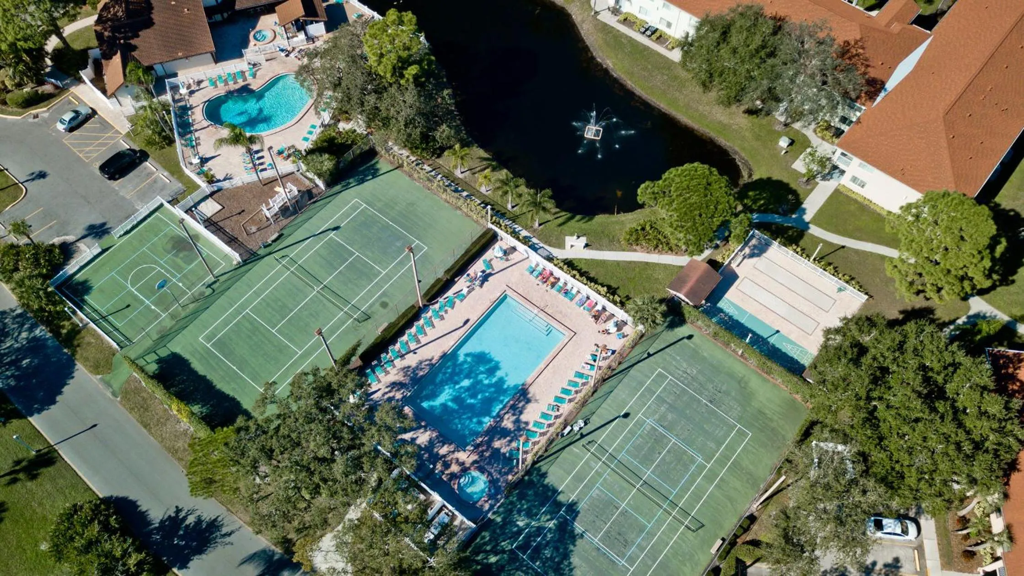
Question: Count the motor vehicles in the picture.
3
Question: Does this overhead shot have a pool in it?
Yes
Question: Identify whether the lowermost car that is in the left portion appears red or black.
black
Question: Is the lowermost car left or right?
right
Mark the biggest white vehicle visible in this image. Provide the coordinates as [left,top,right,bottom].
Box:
[866,516,920,541]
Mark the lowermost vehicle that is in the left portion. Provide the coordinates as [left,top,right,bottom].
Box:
[98,148,142,179]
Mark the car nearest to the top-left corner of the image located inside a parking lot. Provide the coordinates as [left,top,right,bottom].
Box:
[55,104,95,132]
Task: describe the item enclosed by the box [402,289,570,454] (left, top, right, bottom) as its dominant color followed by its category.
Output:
blue swimming pool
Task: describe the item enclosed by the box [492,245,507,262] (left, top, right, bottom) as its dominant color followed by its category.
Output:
white umbrella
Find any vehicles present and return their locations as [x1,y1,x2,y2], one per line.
[98,148,142,179]
[55,104,95,132]
[866,516,920,541]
